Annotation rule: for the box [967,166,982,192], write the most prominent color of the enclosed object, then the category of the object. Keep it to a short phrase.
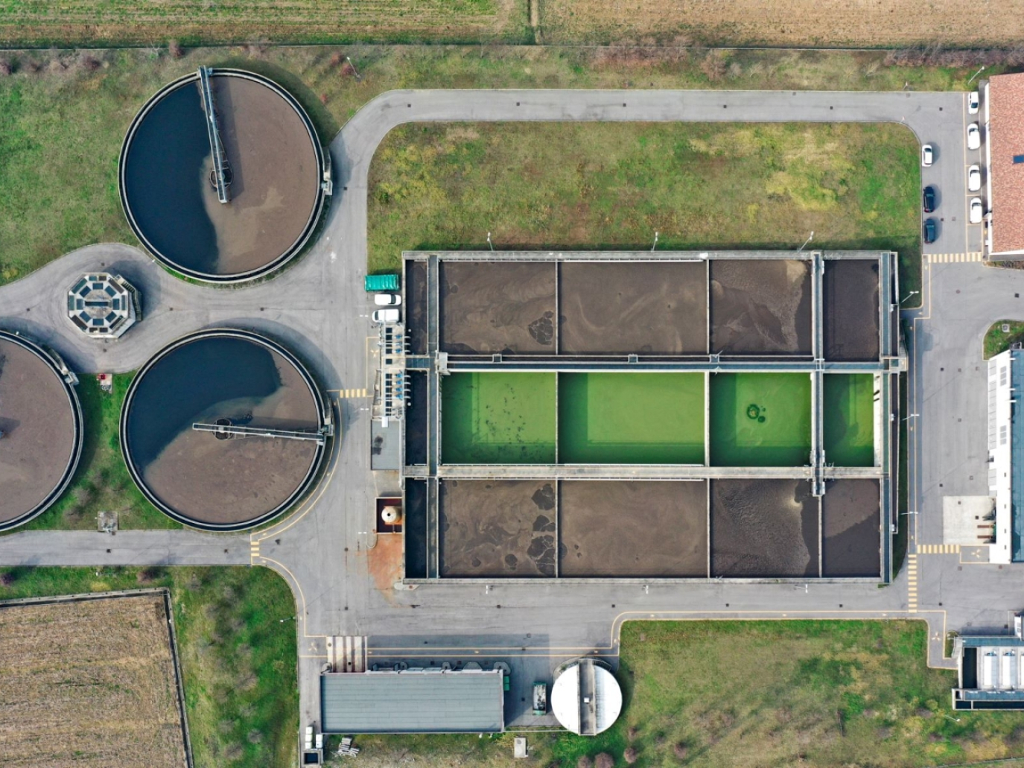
white car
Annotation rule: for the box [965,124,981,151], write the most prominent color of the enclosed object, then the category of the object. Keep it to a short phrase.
white car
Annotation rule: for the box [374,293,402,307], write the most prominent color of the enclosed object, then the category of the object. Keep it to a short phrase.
white vehicle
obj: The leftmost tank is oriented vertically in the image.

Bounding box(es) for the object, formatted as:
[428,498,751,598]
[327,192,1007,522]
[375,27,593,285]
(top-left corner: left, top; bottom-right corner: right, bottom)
[0,329,88,532]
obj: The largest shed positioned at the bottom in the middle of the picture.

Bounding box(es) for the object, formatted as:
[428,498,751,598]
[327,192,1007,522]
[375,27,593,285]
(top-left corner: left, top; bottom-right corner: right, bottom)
[316,657,507,738]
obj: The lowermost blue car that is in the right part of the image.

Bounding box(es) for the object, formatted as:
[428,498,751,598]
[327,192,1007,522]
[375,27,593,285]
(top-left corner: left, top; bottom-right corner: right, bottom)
[923,220,937,245]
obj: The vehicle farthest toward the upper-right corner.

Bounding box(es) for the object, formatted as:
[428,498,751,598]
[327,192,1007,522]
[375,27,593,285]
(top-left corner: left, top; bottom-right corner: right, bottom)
[966,91,981,116]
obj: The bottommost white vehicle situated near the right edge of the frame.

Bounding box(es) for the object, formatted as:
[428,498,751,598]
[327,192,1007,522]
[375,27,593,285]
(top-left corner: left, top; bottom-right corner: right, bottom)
[968,199,984,224]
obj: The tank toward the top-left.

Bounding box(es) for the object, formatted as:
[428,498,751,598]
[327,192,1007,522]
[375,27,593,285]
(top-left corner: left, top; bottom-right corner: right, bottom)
[118,63,339,284]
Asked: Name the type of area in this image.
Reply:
industrial area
